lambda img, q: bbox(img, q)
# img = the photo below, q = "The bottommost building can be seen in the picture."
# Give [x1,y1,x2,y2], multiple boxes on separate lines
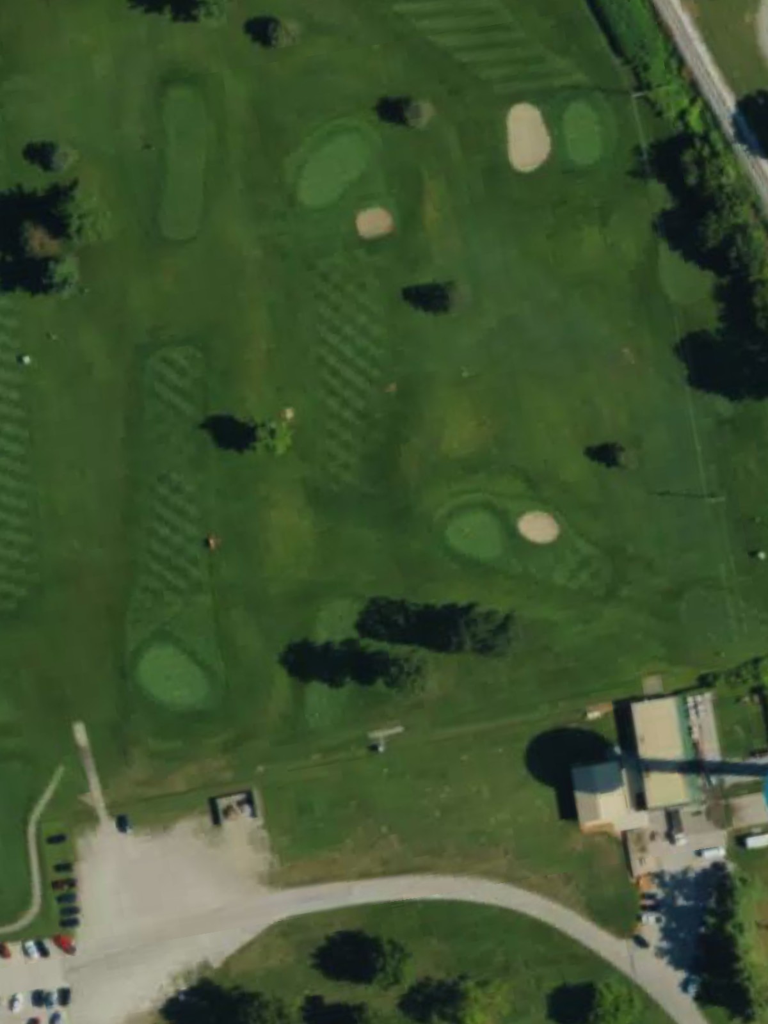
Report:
[568,760,634,833]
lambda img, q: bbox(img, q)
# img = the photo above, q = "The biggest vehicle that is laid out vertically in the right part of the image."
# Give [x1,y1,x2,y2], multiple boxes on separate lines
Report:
[672,812,687,844]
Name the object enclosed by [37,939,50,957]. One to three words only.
vehicle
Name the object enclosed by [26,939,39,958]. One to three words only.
vehicle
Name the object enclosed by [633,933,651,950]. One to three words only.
car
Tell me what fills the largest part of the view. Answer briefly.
grass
